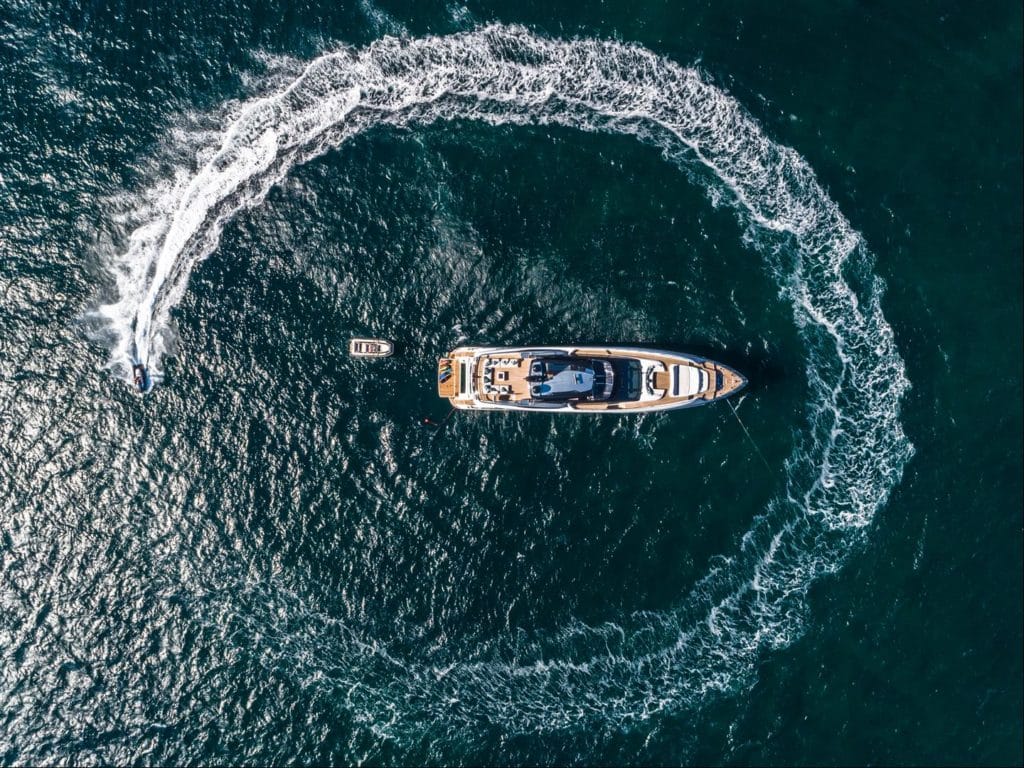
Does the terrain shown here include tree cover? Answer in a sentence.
No, there's no tree cover in this view.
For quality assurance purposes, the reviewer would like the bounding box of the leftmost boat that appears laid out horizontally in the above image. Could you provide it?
[350,339,393,357]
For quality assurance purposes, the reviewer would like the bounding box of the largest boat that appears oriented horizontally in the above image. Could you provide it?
[438,347,748,412]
